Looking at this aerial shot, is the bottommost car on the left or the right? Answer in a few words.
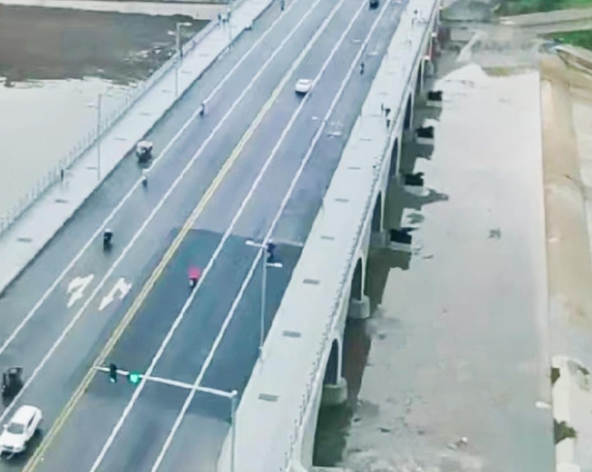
left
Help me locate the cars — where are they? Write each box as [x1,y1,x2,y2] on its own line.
[368,0,381,8]
[0,398,45,450]
[295,79,314,94]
